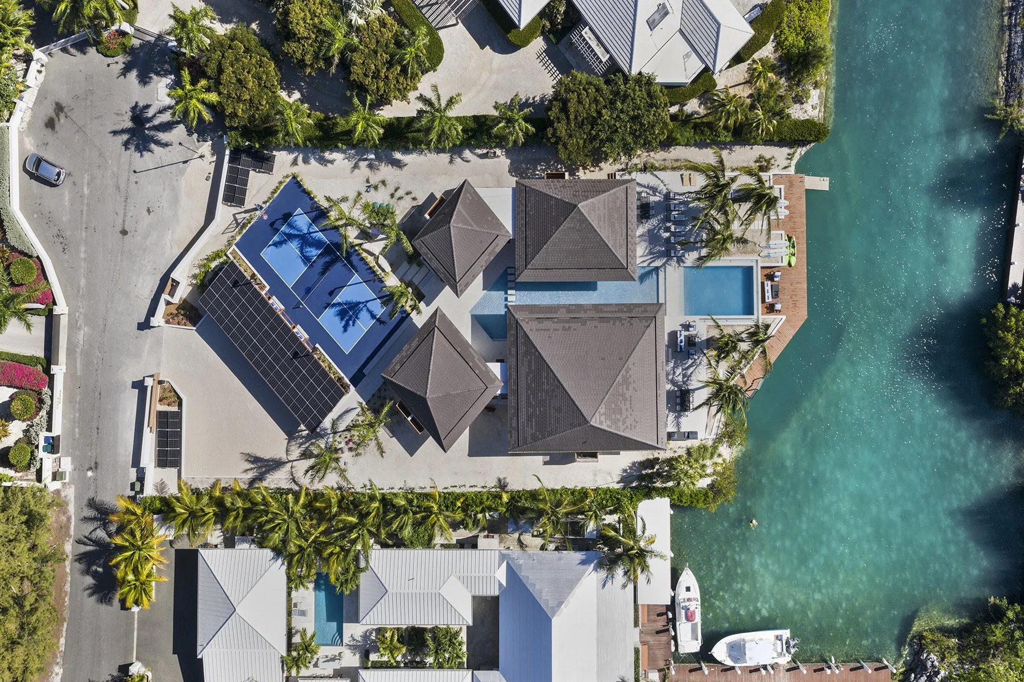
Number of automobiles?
1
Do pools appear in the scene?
Yes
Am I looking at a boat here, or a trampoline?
boat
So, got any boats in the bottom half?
Yes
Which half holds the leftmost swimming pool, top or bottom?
bottom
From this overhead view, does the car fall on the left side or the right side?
left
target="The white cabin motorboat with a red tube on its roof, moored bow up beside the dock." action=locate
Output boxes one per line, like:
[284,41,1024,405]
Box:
[675,571,701,651]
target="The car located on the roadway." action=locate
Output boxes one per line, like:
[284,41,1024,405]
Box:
[27,156,69,185]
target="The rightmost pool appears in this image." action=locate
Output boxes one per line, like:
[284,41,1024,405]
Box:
[684,266,753,316]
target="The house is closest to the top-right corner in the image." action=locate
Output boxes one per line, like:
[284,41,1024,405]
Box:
[570,0,754,88]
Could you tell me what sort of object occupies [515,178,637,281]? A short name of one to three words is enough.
house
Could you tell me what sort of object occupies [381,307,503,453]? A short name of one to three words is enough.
house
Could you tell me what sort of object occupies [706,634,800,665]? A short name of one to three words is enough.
boat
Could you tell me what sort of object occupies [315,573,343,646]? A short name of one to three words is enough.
swimming pool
